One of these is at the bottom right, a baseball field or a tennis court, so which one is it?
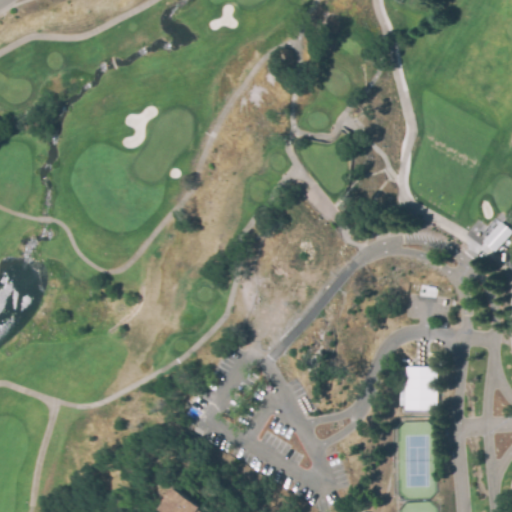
tennis court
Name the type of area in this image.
golf course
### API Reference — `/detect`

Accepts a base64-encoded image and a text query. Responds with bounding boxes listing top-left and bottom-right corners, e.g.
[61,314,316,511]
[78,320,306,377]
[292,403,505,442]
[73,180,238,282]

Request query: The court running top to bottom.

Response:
[400,422,438,499]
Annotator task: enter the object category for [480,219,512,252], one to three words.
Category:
building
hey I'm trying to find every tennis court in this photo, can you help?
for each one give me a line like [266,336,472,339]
[400,422,438,499]
[400,502,438,512]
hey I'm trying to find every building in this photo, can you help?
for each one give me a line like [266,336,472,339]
[154,488,198,512]
[400,366,438,412]
[421,284,439,299]
[480,219,512,252]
